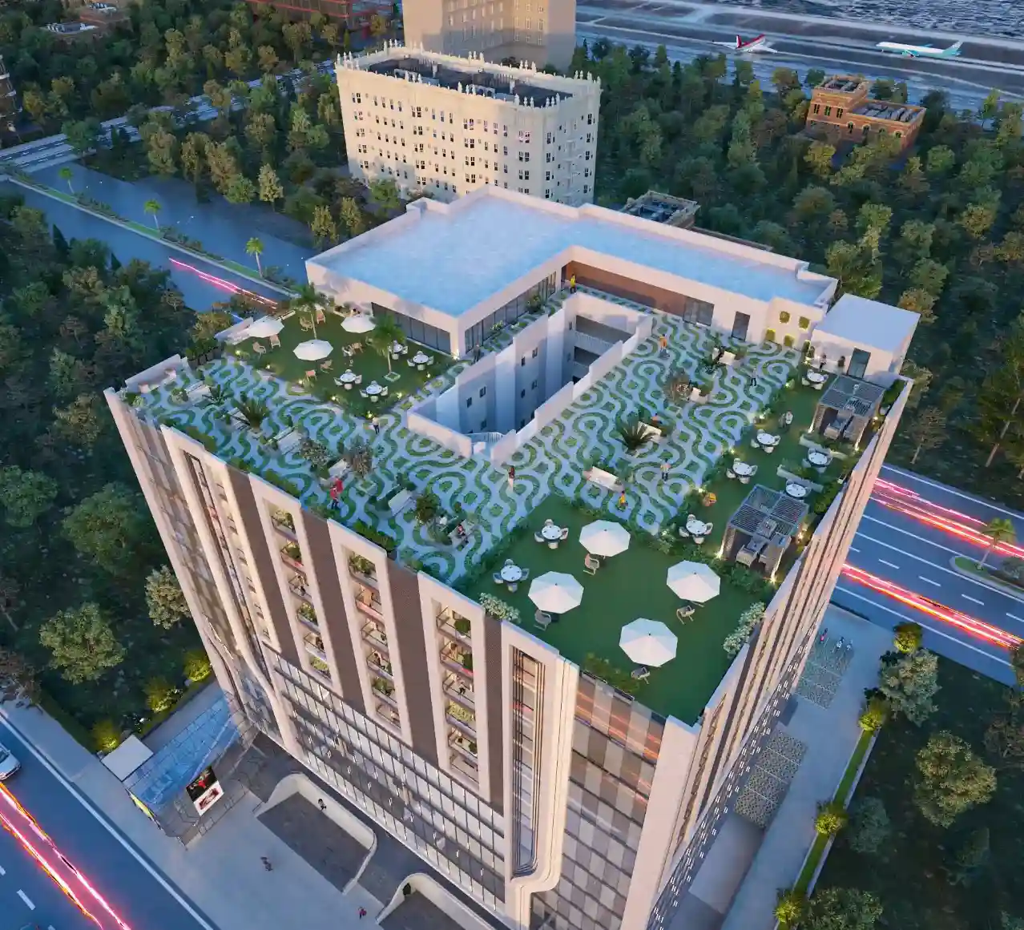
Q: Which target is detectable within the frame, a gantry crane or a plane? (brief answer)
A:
plane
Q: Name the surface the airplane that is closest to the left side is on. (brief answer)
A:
grass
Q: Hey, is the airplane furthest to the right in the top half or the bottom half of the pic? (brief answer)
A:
top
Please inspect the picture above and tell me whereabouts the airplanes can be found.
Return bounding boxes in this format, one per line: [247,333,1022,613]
[876,35,967,61]
[711,32,782,55]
